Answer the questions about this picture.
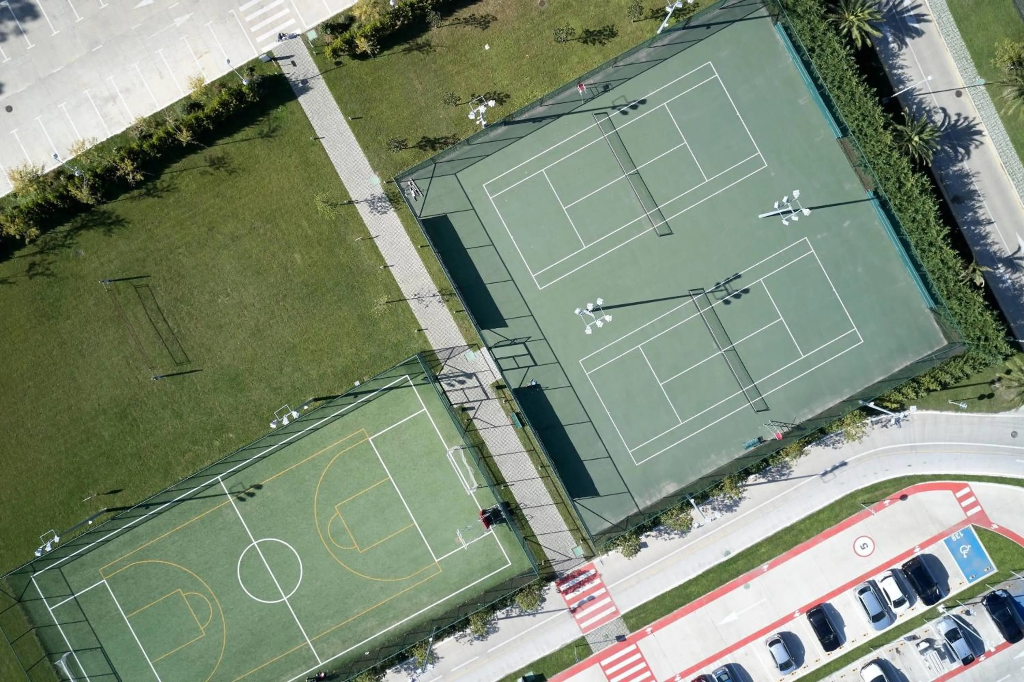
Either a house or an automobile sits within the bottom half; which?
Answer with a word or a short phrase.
automobile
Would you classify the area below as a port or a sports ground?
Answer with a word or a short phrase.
sports ground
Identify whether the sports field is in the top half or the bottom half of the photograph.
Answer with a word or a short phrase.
bottom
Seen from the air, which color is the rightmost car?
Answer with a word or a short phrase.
black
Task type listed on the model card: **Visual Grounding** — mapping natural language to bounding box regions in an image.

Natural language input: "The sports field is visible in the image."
[4,350,537,682]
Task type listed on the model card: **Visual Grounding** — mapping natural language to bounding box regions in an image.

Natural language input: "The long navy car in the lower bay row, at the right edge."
[982,590,1024,646]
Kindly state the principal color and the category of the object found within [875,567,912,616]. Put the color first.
white car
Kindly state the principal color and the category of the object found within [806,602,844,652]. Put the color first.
black car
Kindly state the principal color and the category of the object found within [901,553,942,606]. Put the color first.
black car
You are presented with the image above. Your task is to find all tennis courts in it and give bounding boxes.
[497,166,949,537]
[399,0,852,360]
